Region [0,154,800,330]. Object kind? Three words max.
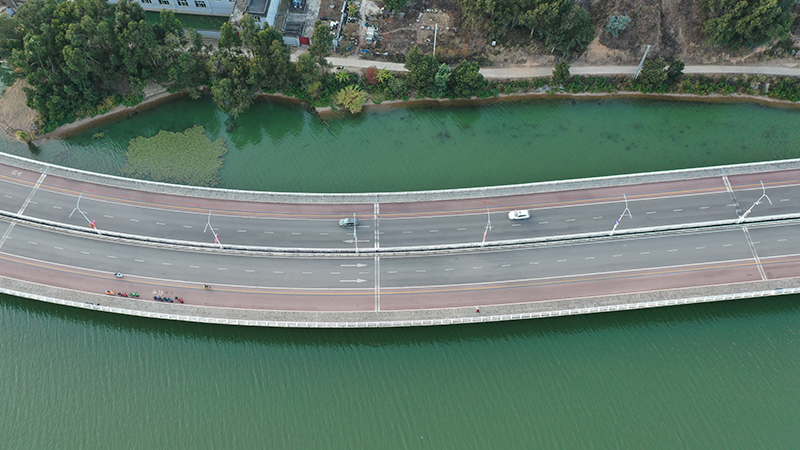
bridge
